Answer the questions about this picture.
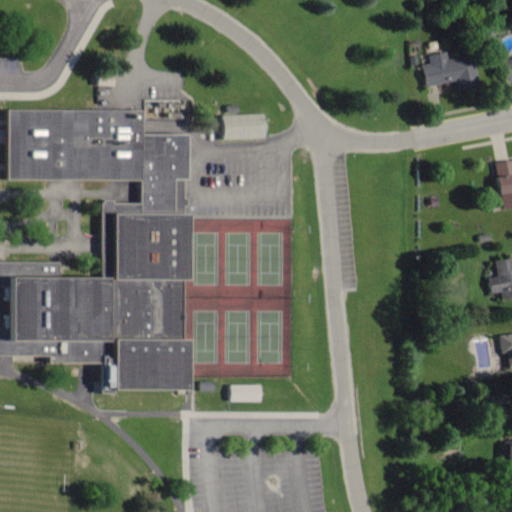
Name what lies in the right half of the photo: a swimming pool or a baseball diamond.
swimming pool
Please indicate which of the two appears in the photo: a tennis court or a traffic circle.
tennis court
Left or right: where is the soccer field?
left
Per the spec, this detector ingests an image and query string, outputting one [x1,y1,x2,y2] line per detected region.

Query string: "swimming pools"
[500,33,512,54]
[469,335,500,378]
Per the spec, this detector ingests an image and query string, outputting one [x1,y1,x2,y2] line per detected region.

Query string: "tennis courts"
[258,232,282,286]
[226,310,250,364]
[194,232,218,286]
[226,232,250,286]
[258,310,282,364]
[194,310,218,364]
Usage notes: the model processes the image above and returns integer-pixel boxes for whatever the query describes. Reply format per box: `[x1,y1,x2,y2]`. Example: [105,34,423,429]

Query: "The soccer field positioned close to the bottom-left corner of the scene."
[0,414,76,512]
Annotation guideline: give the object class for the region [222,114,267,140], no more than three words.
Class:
building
